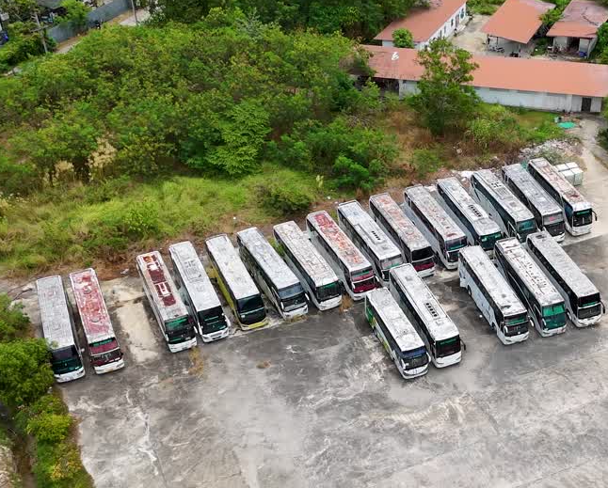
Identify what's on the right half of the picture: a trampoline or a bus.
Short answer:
bus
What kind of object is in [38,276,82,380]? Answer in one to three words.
bus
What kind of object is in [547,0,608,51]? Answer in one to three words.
shed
